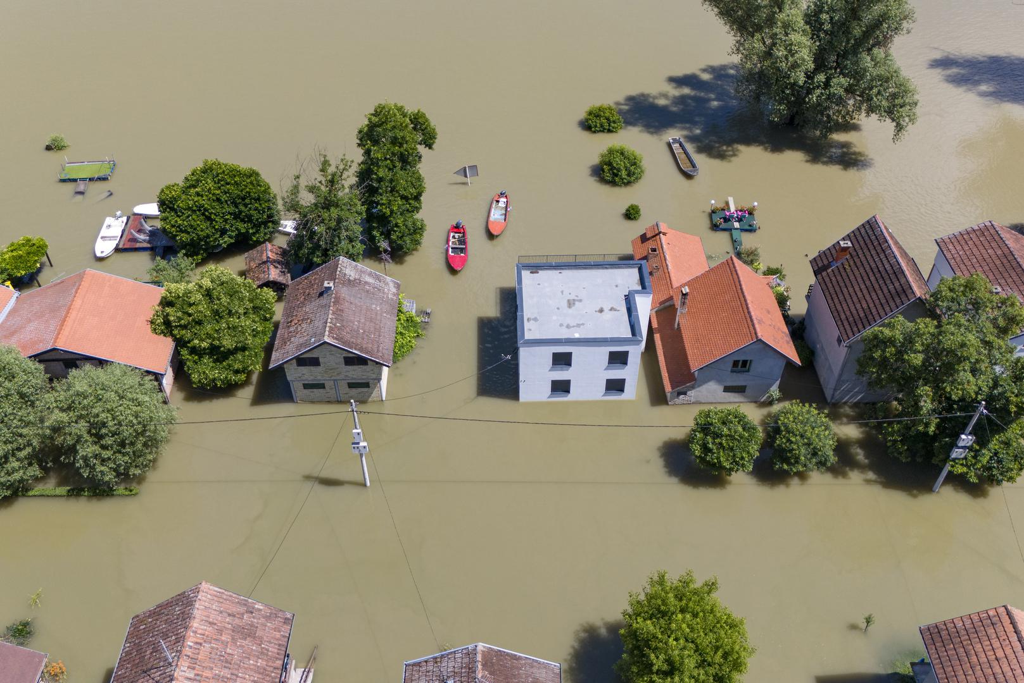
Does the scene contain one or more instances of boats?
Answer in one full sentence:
Yes, the picture does show a boat.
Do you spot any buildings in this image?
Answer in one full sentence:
Yes, a building is visible in the scene.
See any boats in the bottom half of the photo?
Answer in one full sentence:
No, looking in the bottom half of the photo, there is no boat.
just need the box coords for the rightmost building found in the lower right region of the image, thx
[910,604,1024,683]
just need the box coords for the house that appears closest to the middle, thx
[512,250,653,402]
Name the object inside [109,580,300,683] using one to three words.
house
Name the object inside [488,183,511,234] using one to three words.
boat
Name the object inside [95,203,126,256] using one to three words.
boat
